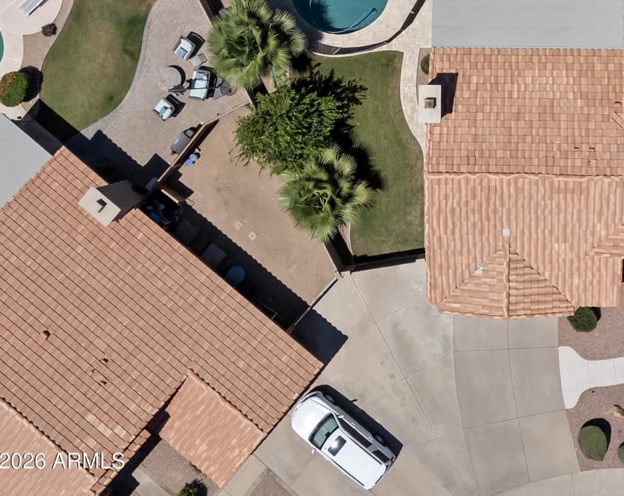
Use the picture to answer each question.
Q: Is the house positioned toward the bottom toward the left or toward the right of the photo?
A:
left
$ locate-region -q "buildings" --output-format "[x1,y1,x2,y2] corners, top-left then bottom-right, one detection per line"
[419,0,624,318]
[0,106,323,496]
